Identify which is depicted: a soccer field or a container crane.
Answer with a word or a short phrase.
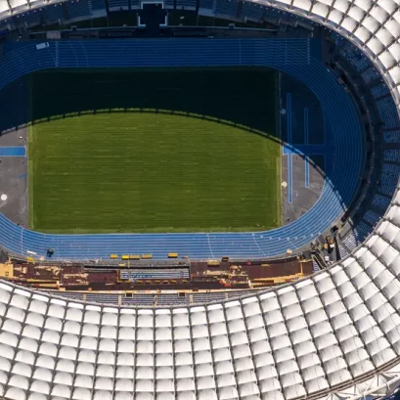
soccer field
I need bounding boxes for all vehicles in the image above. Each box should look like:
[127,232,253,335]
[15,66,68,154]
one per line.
[35,42,50,49]
[47,245,54,255]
